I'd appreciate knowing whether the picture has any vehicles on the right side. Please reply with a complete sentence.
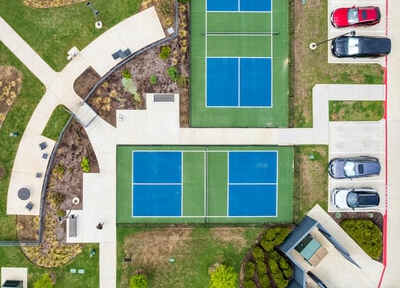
Yes, a vehicle can be seen on the right side.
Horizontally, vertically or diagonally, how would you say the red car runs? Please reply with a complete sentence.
What the image shows is the red car lying horizontally.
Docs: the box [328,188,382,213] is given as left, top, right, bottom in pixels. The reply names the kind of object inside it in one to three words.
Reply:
car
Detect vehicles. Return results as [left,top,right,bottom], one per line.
[328,34,392,60]
[327,5,382,30]
[328,188,382,213]
[325,156,382,181]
